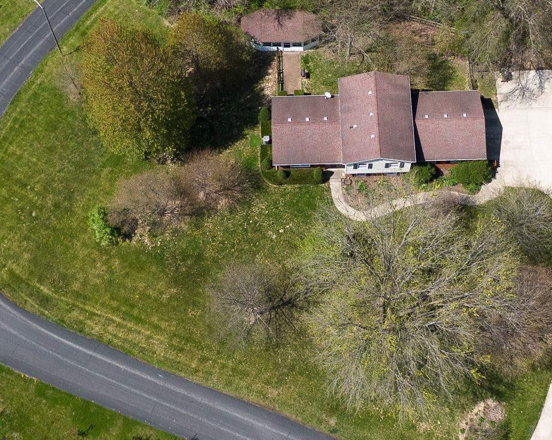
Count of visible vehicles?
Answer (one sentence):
There are no vehicles in the image.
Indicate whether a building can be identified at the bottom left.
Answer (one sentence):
No, I see no building at the bottom left.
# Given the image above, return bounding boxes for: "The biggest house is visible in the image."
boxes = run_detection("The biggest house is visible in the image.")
[271,69,488,176]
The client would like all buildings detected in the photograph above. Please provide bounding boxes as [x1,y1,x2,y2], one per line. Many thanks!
[240,8,323,51]
[271,69,488,176]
